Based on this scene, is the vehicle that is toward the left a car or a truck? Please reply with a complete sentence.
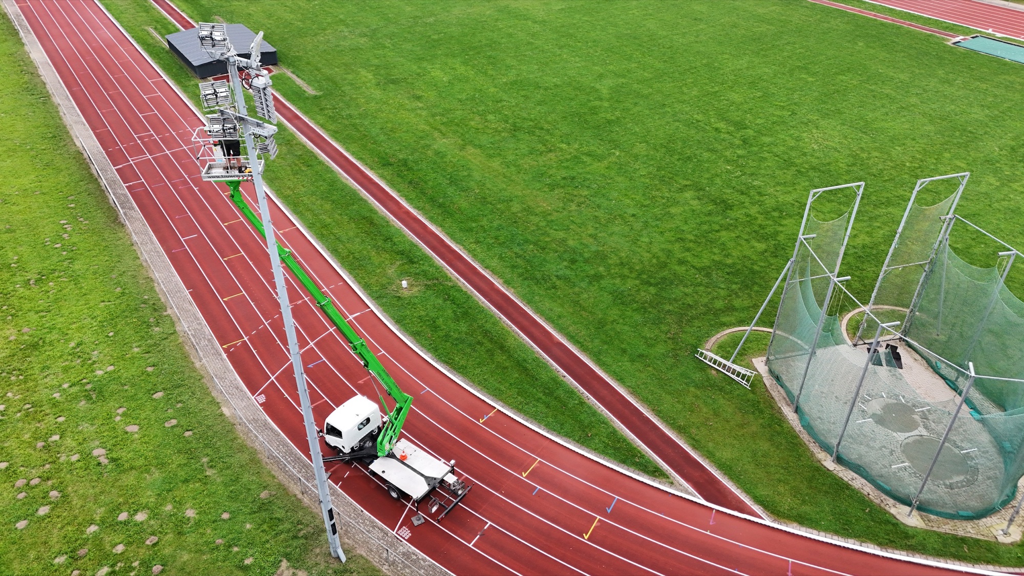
It looks like the vehicle that is toward the left is a truck.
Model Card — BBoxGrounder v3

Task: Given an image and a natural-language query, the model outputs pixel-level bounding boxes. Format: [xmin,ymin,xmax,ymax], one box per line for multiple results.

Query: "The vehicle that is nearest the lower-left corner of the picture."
[191,127,475,526]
